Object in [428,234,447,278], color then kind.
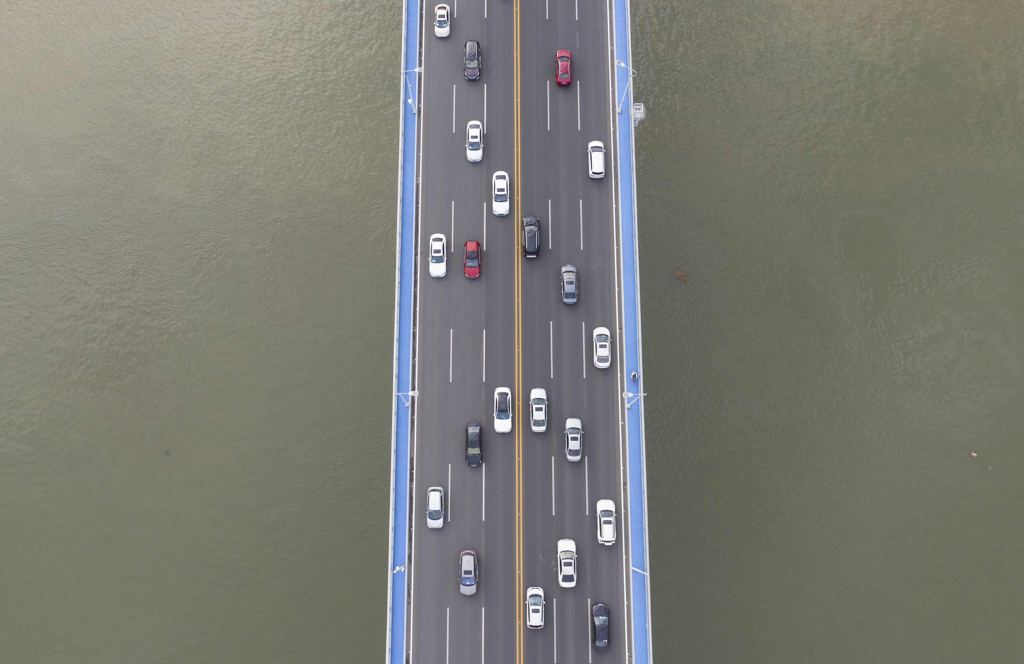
white car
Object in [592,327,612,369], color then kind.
white car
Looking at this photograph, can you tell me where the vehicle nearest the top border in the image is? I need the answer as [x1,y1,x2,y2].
[433,4,451,38]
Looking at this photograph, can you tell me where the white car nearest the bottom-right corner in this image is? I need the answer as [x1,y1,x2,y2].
[596,499,617,545]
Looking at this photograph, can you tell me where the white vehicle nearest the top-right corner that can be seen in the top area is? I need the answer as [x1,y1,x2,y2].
[587,140,606,179]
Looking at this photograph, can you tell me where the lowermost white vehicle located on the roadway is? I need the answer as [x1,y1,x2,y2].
[525,586,545,630]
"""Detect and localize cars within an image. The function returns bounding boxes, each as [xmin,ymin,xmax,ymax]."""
[521,216,541,258]
[425,487,445,529]
[560,264,579,305]
[556,538,578,588]
[596,499,617,545]
[433,4,451,38]
[464,422,484,468]
[463,241,482,279]
[587,140,606,179]
[563,418,584,462]
[491,172,511,216]
[465,121,484,163]
[458,550,479,596]
[428,234,447,278]
[529,388,549,433]
[555,49,573,86]
[592,327,612,369]
[525,586,545,630]
[590,602,611,653]
[493,387,513,434]
[463,41,481,81]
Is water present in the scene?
Yes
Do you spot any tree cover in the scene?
No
